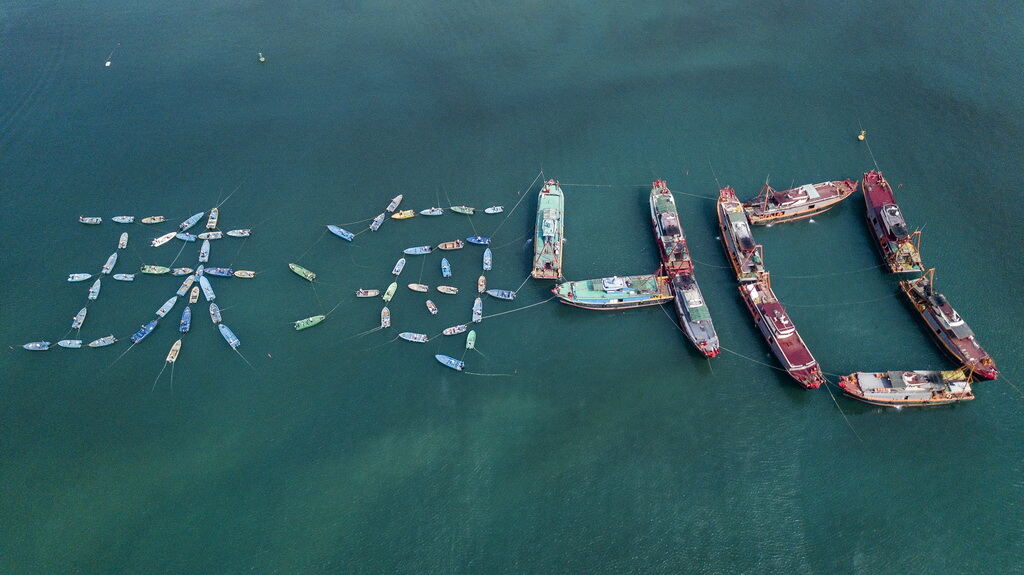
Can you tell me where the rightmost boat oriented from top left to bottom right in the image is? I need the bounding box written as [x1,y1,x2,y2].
[900,269,1001,379]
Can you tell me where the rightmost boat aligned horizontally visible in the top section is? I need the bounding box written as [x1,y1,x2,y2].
[745,178,857,226]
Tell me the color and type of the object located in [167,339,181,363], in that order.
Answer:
white boat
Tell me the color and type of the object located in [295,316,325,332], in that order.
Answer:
green boat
